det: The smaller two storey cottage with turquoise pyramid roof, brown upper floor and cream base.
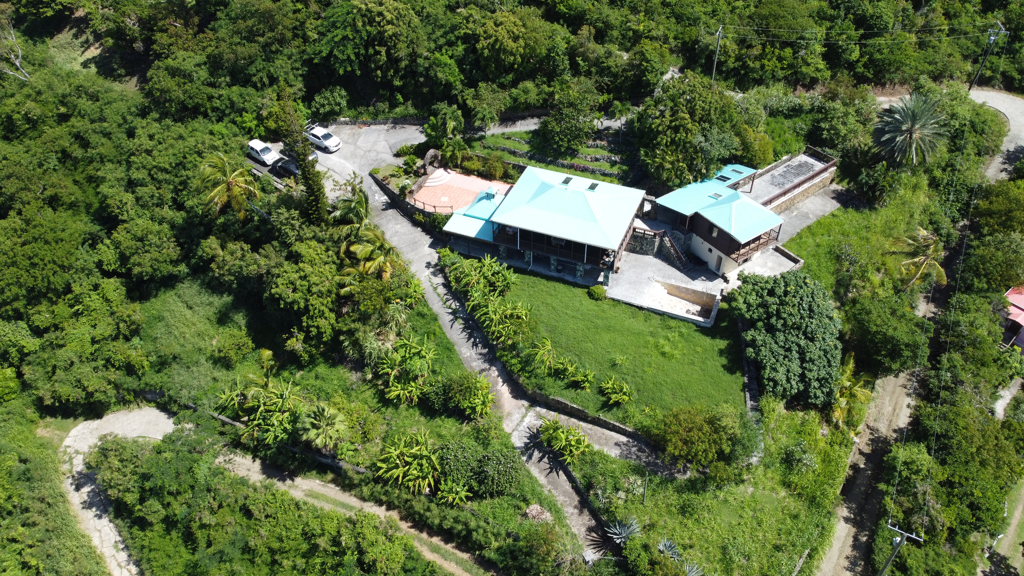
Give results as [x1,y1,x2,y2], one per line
[660,168,788,275]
